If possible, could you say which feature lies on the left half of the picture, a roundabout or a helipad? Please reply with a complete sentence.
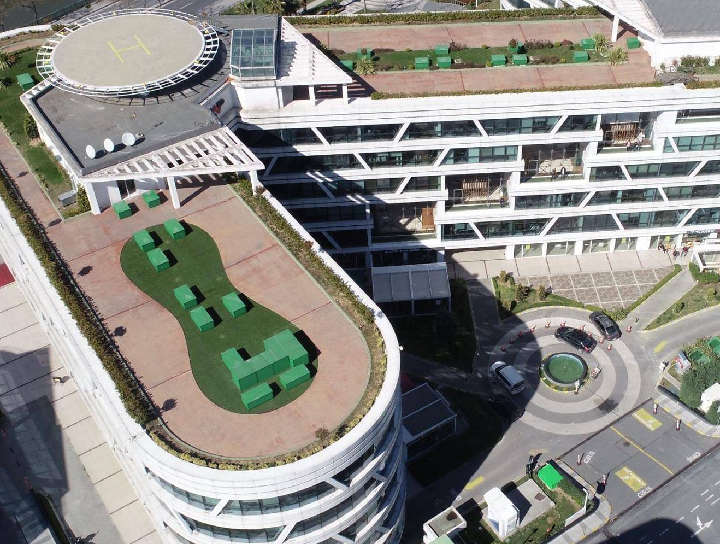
There is a helipad on the left half of the picture.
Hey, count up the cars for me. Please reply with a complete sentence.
Altogether the scene contains 4 cars.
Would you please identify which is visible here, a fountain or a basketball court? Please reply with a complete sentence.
The one in the frame is a fountain.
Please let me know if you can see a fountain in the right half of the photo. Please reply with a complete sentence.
Yes, I can see a fountain in the right half of the photo.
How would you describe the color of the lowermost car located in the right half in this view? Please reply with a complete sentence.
The lowermost car located in the right half looks black in the image.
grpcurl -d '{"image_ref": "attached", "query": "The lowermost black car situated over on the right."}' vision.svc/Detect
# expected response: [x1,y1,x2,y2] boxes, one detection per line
[481,388,528,422]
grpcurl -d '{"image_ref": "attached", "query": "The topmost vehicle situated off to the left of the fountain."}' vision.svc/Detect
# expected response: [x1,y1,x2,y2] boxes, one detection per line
[490,357,527,392]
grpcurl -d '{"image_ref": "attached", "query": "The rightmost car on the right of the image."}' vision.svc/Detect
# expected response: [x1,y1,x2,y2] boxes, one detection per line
[587,308,625,339]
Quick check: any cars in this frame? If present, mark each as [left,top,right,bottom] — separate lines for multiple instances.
[490,357,527,392]
[587,308,625,339]
[553,324,598,352]
[481,388,528,422]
